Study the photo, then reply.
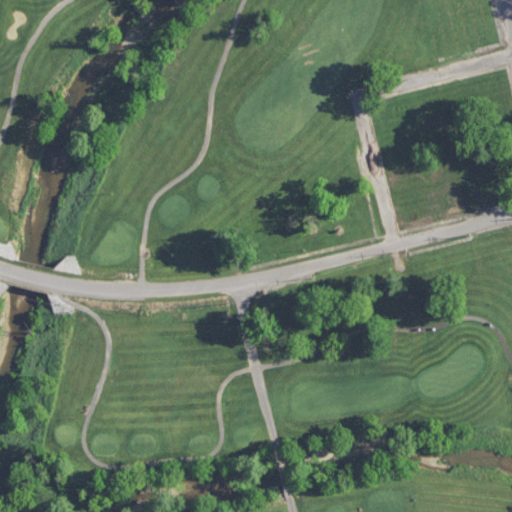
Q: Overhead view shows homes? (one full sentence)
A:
No, I can't see a single home in this photo.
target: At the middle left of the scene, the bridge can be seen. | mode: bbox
[0,241,84,315]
